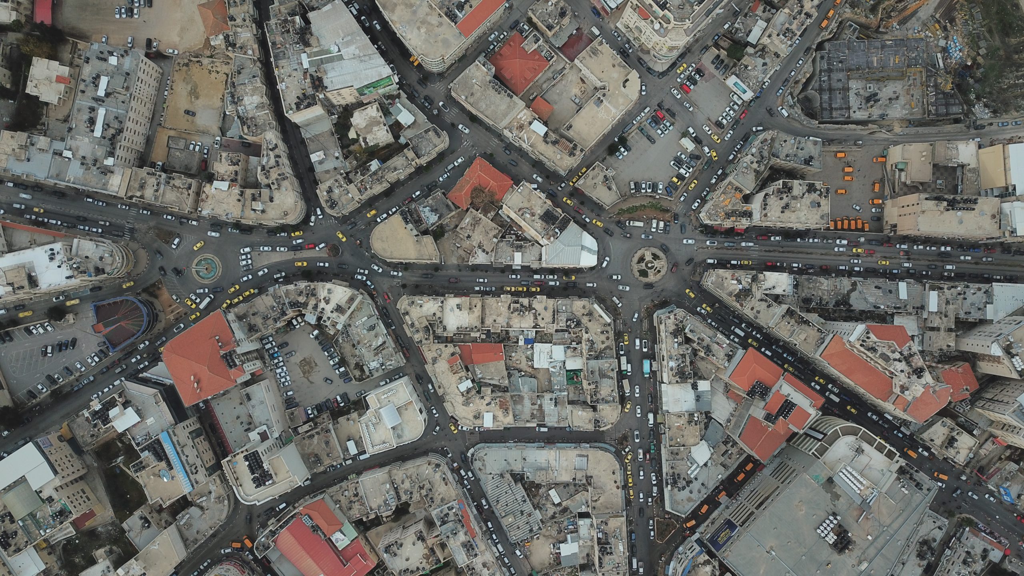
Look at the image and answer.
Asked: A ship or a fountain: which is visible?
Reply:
fountain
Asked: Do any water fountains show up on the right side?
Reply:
No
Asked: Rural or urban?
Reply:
urban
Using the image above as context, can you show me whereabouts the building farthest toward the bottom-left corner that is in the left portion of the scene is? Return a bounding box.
[9,539,62,576]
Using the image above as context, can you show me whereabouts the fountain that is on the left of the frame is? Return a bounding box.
[189,253,222,283]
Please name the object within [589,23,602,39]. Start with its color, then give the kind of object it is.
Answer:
white vehicle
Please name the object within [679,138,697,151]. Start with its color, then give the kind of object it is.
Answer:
white vehicle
